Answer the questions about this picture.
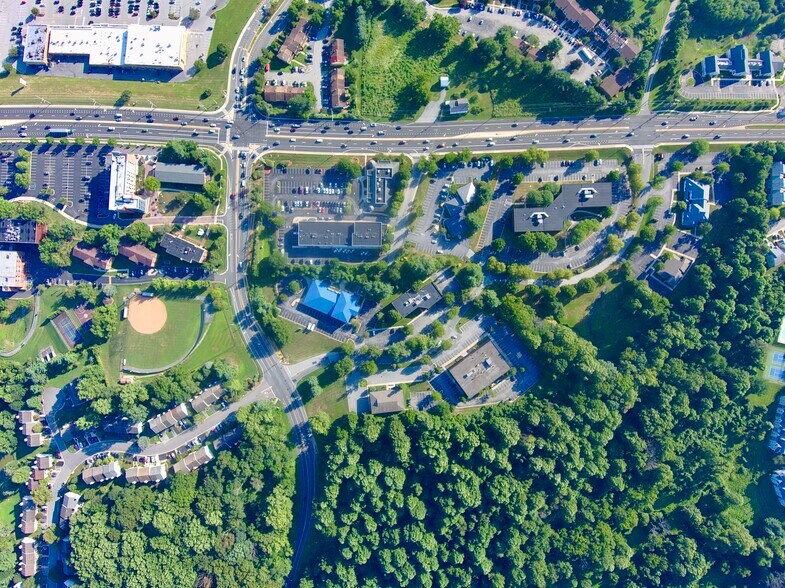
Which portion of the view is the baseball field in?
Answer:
left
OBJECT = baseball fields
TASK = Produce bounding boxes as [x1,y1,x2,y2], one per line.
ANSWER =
[123,297,202,373]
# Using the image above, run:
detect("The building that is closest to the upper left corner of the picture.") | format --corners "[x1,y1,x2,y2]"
[24,23,190,71]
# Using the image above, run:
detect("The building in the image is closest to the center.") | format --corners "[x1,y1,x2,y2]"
[392,282,442,318]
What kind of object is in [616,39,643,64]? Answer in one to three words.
house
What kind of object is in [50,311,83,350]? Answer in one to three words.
tennis court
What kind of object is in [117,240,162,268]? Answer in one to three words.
house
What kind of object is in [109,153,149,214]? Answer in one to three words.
building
